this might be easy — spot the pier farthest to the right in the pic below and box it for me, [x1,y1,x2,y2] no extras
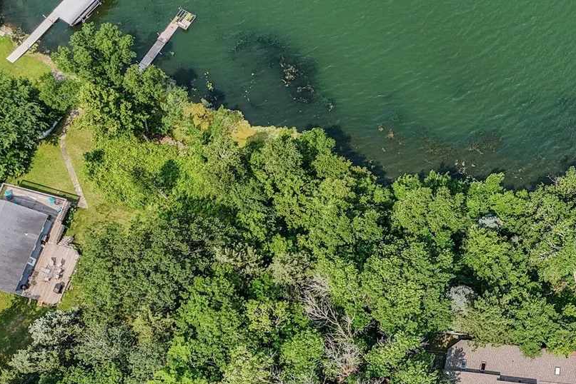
[134,3,199,69]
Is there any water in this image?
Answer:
Yes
